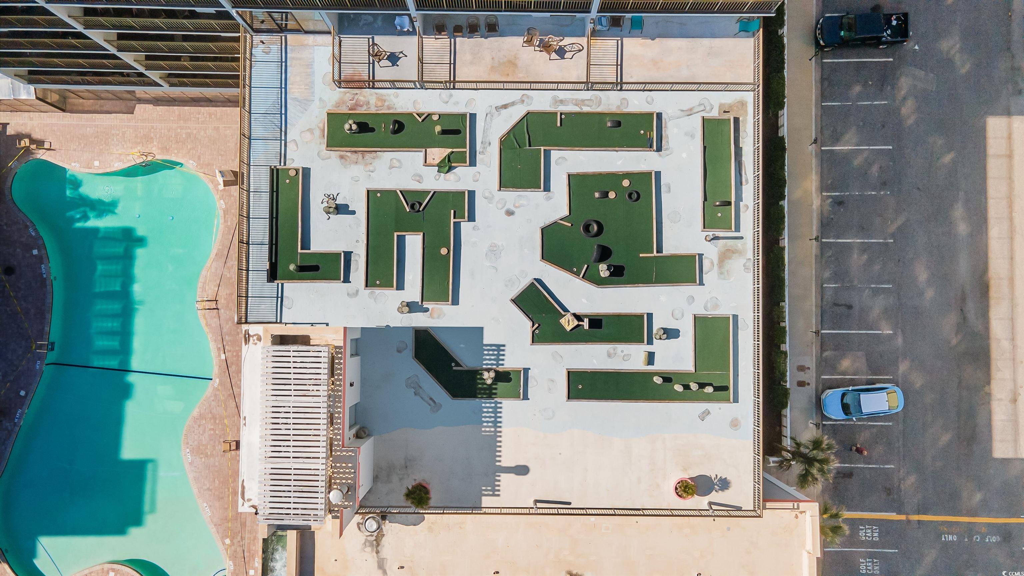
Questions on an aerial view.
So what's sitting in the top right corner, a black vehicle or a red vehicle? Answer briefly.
black vehicle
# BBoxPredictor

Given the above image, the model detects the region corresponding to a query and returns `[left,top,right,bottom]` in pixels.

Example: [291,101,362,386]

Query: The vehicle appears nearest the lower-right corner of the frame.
[820,382,905,420]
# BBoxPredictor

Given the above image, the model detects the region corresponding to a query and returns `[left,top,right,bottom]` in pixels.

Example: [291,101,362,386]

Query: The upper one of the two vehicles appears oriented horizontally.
[811,8,910,50]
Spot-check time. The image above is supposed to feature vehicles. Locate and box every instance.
[811,8,910,50]
[820,382,905,420]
